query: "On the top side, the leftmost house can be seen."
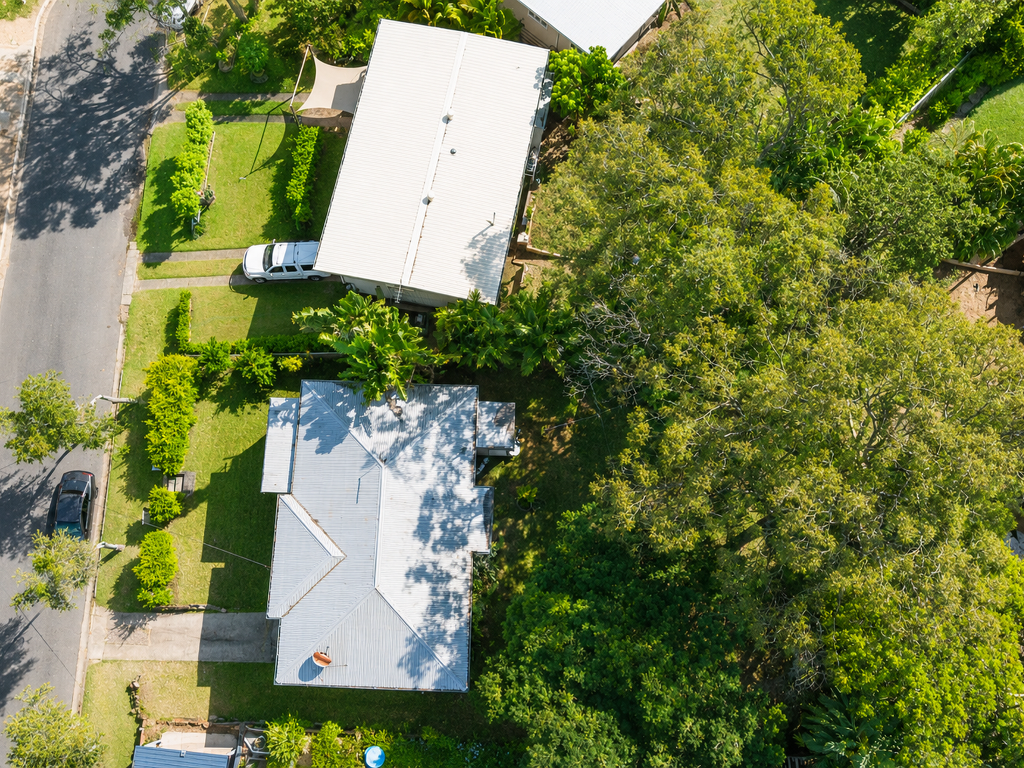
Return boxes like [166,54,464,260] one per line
[312,19,555,319]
